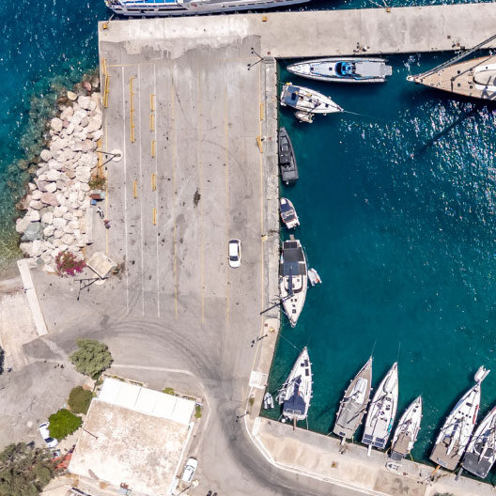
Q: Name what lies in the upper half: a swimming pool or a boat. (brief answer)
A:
boat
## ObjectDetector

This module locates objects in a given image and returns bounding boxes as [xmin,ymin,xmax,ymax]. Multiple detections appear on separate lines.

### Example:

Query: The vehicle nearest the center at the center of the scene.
[227,239,240,266]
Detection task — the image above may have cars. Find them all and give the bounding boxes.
[180,455,199,484]
[227,239,240,266]
[35,420,59,448]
